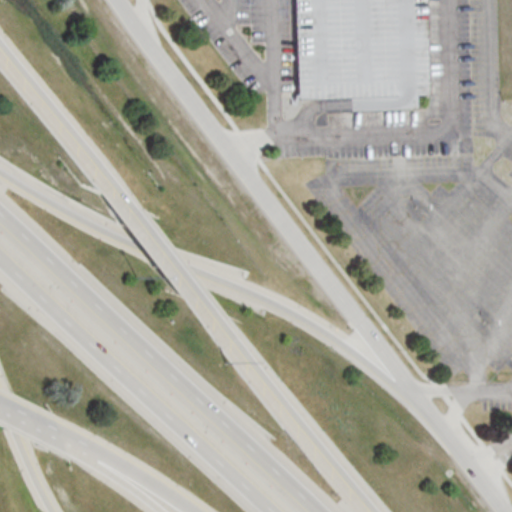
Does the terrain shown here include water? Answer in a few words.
No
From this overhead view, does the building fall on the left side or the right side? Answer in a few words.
right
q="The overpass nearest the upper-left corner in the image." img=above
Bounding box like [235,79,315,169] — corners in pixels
[112,198,215,314]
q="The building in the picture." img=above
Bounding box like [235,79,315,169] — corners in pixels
[296,0,430,112]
